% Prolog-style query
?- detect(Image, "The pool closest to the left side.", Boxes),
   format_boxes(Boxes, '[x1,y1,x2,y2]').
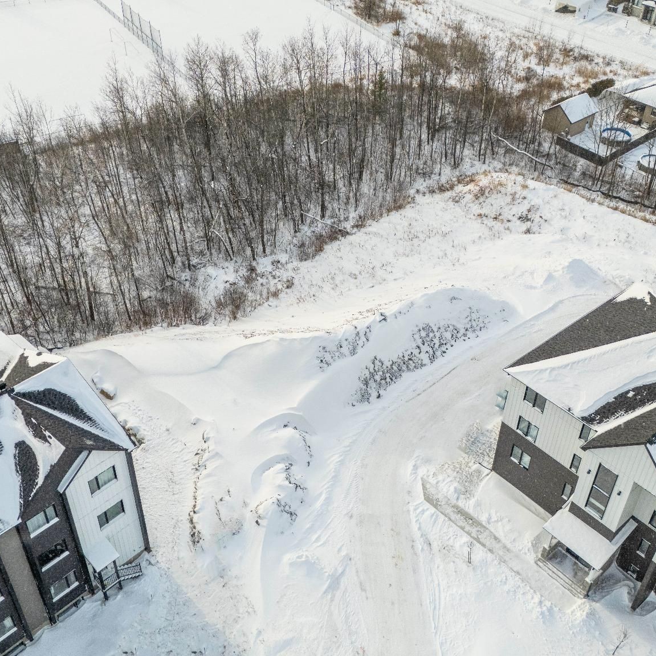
[599,130,632,149]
